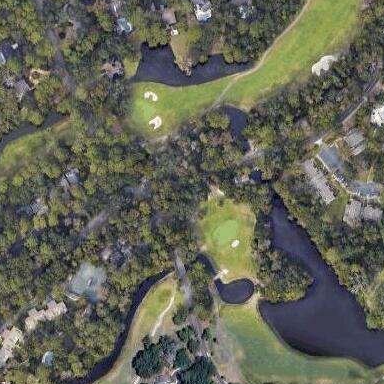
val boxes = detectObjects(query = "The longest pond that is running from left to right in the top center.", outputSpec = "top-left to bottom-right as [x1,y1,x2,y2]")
[129,44,253,87]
